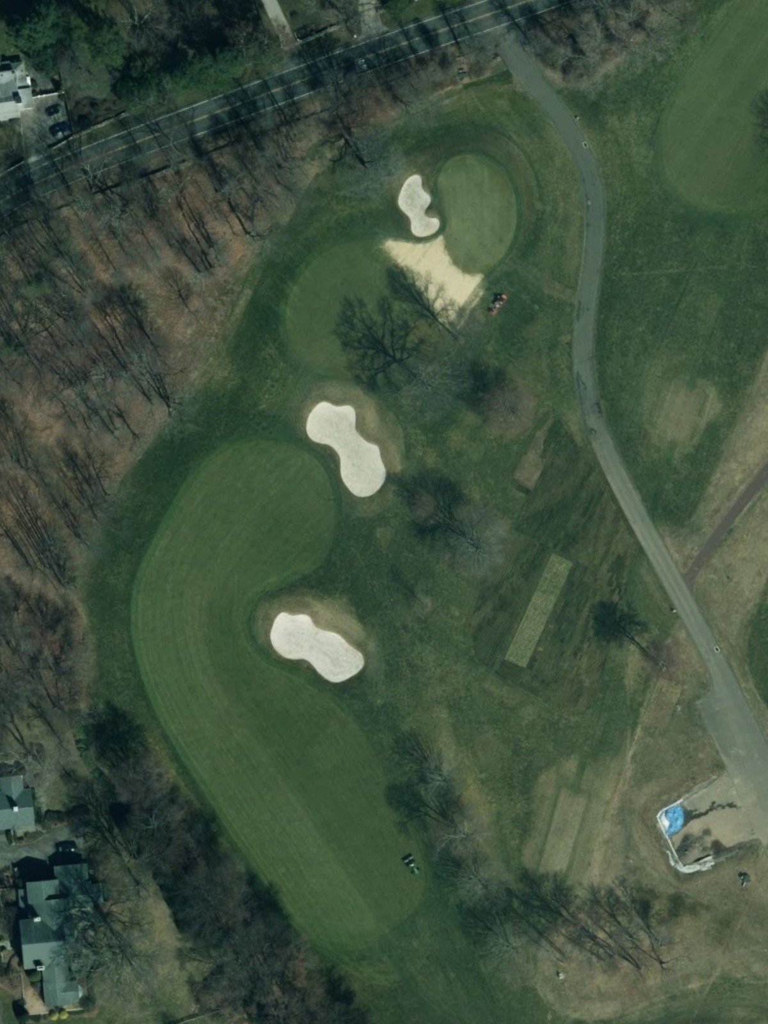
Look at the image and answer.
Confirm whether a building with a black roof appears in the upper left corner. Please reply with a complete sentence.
No, in the upper left corner there is no building with a black roof.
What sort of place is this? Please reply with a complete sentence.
The picture captures a golf course.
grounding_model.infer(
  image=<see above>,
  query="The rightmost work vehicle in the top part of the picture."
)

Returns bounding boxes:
[490,292,506,313]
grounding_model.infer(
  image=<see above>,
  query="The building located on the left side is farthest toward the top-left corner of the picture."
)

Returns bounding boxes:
[0,58,35,122]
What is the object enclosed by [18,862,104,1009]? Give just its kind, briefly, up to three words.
house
